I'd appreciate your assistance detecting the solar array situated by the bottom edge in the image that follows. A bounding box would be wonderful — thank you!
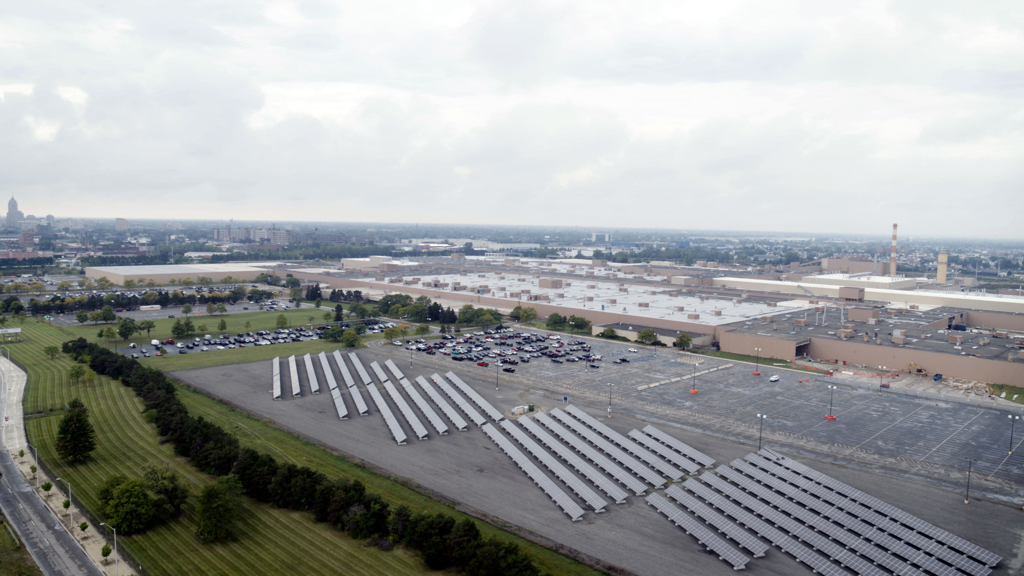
[168,348,1024,576]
